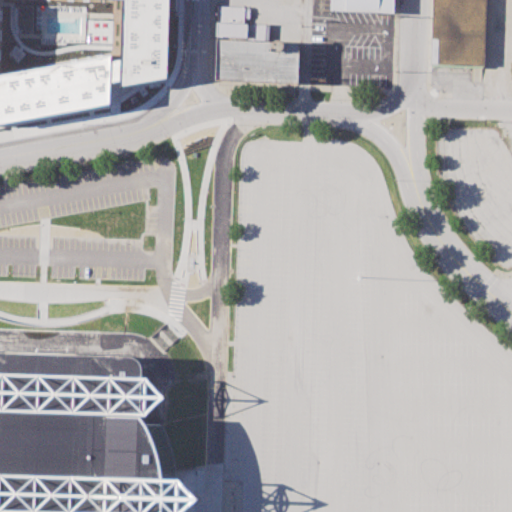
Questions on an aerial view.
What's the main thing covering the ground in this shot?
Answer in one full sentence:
For the most part, this view shows paved ground.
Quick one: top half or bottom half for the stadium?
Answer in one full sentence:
It is in the bottom half that the stadium appears.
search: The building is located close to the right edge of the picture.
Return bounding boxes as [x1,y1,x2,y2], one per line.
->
[432,0,486,68]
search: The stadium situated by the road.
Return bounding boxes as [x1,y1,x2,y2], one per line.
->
[0,352,197,512]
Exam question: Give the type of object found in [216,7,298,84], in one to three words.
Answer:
building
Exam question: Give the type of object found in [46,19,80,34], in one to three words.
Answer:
swimming pool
